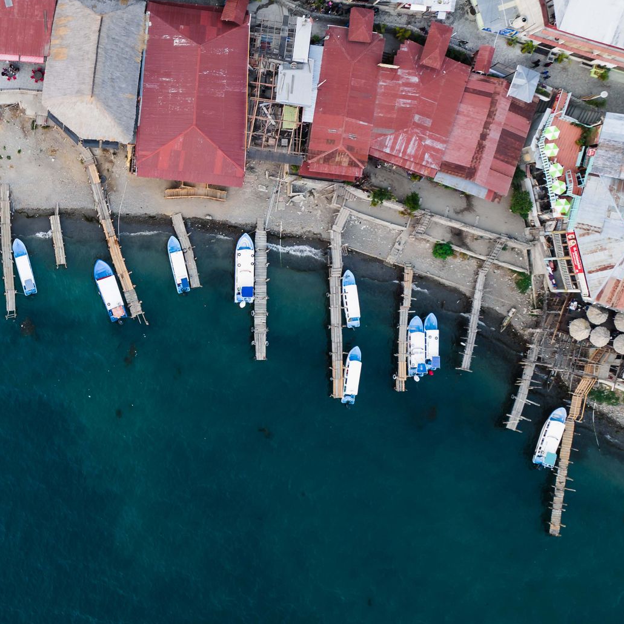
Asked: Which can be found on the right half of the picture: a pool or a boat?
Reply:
boat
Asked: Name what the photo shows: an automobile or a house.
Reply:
house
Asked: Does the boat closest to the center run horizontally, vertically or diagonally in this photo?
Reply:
vertically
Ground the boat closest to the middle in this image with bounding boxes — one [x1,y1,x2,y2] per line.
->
[342,270,362,330]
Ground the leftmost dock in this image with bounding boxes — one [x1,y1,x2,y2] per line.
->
[0,185,17,319]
